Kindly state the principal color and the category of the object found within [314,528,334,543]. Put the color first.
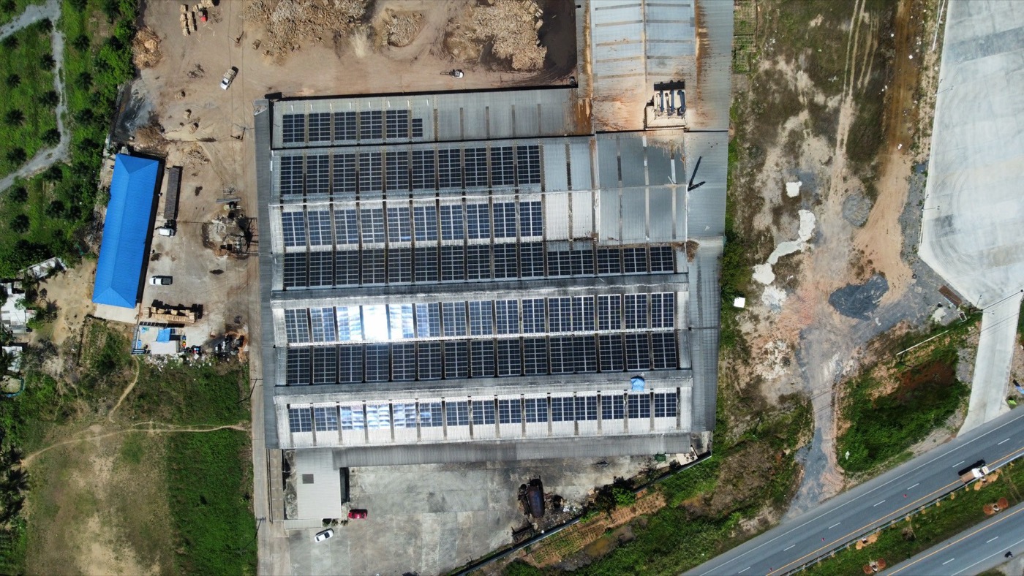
white car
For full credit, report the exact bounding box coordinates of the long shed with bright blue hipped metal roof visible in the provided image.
[92,153,166,309]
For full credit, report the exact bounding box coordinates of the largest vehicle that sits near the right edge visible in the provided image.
[957,465,989,487]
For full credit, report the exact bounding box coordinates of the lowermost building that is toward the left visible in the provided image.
[284,447,345,530]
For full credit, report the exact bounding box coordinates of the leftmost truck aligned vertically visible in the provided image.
[157,159,182,232]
